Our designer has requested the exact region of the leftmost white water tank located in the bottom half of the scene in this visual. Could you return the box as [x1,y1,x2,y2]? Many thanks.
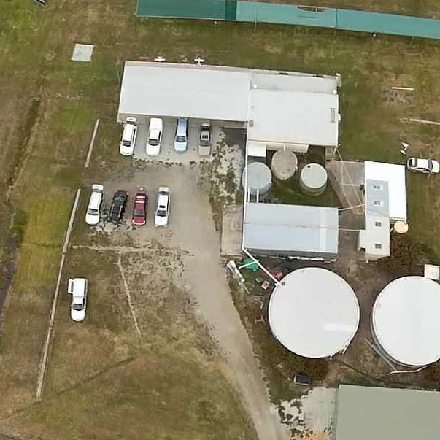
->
[268,268,359,360]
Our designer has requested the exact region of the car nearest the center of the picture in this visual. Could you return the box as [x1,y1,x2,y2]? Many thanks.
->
[153,187,171,228]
